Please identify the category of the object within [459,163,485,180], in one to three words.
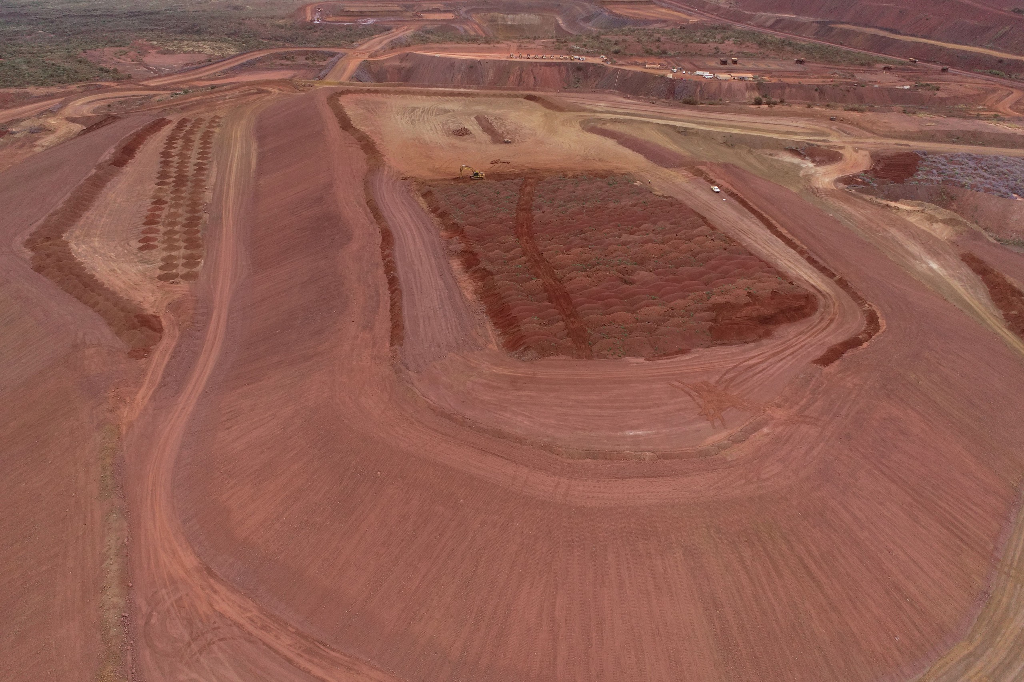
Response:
work vehicle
